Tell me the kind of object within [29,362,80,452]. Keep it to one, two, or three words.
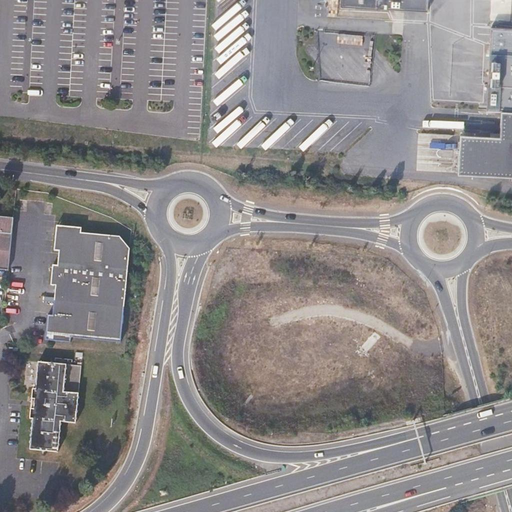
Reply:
building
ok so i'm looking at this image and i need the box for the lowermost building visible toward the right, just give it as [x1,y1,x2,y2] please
[457,112,512,182]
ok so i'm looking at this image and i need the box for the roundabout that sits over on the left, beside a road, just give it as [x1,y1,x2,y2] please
[128,170,256,256]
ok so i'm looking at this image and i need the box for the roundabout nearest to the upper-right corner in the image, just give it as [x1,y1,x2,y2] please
[384,192,497,284]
